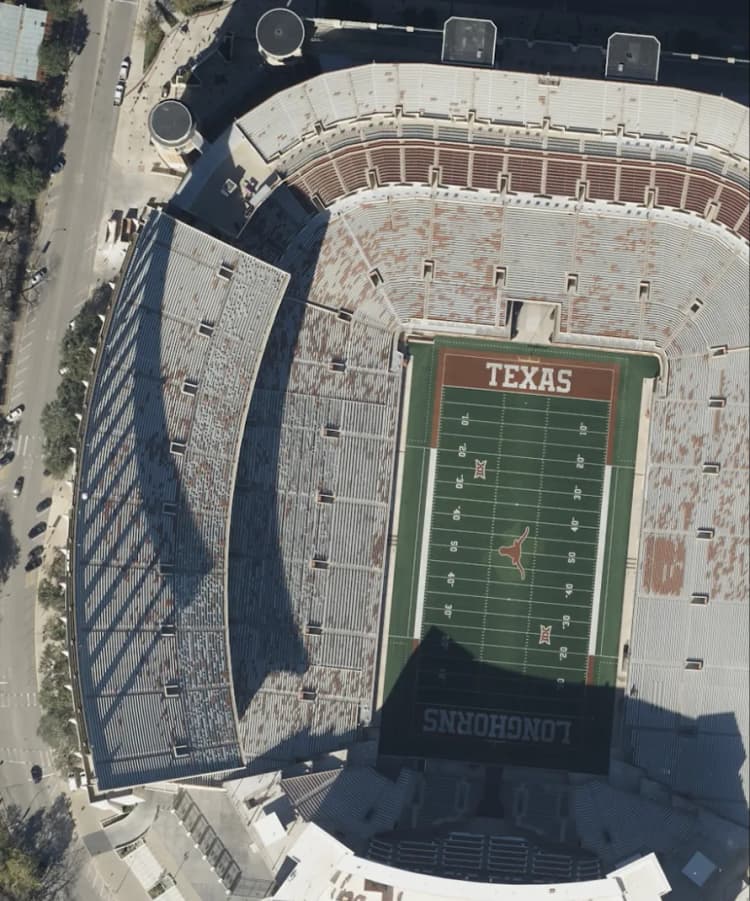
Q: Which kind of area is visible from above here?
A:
sports ground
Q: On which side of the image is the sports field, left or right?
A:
right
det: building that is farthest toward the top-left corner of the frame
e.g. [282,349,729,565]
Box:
[0,4,48,83]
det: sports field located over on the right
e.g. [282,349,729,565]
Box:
[378,338,658,772]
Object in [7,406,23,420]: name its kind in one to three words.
car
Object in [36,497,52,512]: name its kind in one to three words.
car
